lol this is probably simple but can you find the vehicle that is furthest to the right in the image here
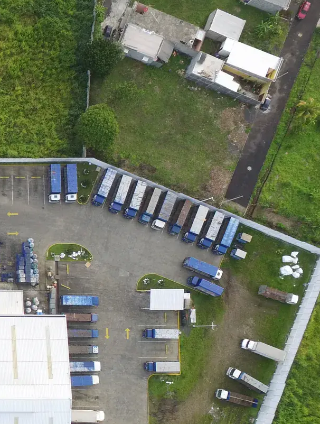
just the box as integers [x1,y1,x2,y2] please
[295,0,311,21]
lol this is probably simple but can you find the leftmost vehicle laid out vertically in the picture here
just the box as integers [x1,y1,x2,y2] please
[46,164,61,203]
